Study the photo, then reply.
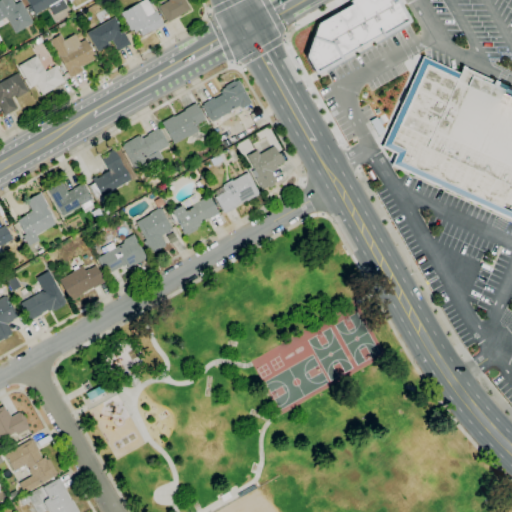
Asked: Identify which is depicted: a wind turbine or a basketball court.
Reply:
basketball court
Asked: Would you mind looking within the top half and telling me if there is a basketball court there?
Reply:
No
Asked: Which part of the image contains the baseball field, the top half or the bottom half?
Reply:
bottom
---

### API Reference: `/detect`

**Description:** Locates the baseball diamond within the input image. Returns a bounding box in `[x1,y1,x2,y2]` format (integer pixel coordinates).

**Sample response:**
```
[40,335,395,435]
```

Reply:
[206,486,277,512]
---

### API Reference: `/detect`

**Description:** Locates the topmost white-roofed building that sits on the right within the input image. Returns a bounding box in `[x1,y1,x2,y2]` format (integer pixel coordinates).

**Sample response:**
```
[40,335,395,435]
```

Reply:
[309,0,416,70]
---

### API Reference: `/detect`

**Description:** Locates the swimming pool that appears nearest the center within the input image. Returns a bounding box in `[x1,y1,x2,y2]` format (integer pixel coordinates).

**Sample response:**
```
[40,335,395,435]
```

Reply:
[176,184,196,202]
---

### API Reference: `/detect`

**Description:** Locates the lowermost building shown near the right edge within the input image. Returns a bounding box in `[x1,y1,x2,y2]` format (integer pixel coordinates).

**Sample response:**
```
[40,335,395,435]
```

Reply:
[383,55,512,218]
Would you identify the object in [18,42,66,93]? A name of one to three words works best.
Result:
house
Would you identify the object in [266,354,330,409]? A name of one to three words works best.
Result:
basketball court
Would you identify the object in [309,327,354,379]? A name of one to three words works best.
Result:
basketball court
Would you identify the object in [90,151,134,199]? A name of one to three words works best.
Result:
house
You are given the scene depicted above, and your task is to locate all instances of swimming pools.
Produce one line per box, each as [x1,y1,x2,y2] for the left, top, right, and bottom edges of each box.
[130,200,150,216]
[176,184,196,202]
[118,226,128,236]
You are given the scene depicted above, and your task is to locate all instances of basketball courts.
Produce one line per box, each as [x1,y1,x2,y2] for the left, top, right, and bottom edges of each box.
[336,313,376,366]
[309,327,354,379]
[266,354,330,409]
